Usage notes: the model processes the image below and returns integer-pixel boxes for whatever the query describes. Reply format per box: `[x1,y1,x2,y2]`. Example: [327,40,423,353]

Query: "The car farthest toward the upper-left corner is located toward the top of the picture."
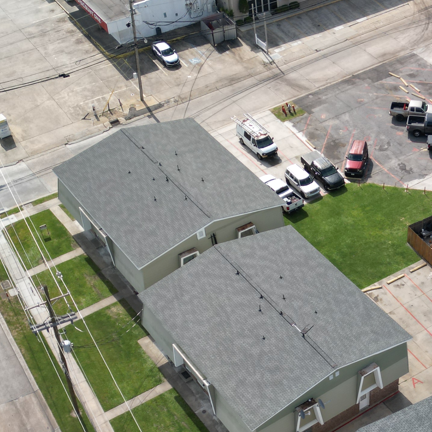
[149,39,181,64]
